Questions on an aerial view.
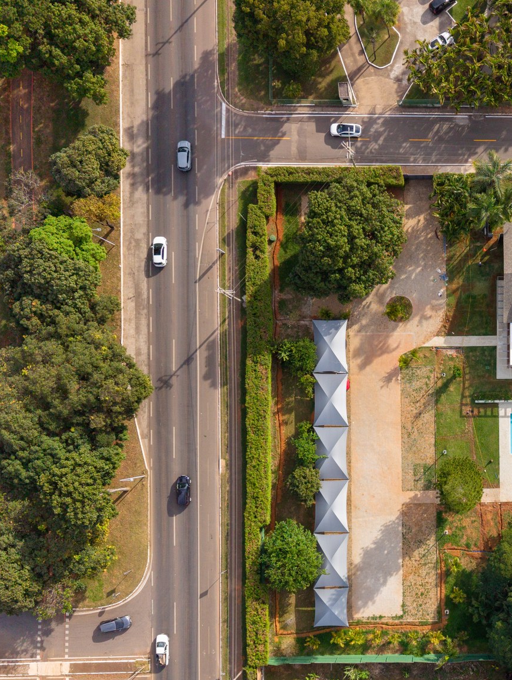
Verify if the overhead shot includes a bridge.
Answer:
No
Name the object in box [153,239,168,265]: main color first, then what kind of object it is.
white car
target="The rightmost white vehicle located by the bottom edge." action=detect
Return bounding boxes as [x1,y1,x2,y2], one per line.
[154,635,169,666]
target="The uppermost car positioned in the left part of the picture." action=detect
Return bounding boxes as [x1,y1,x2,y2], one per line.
[177,142,192,171]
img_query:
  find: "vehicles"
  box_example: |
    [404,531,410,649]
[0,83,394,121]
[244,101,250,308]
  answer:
[425,31,453,54]
[98,615,130,634]
[177,142,192,171]
[154,635,169,666]
[428,0,456,14]
[153,239,168,265]
[332,122,361,137]
[175,475,192,503]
